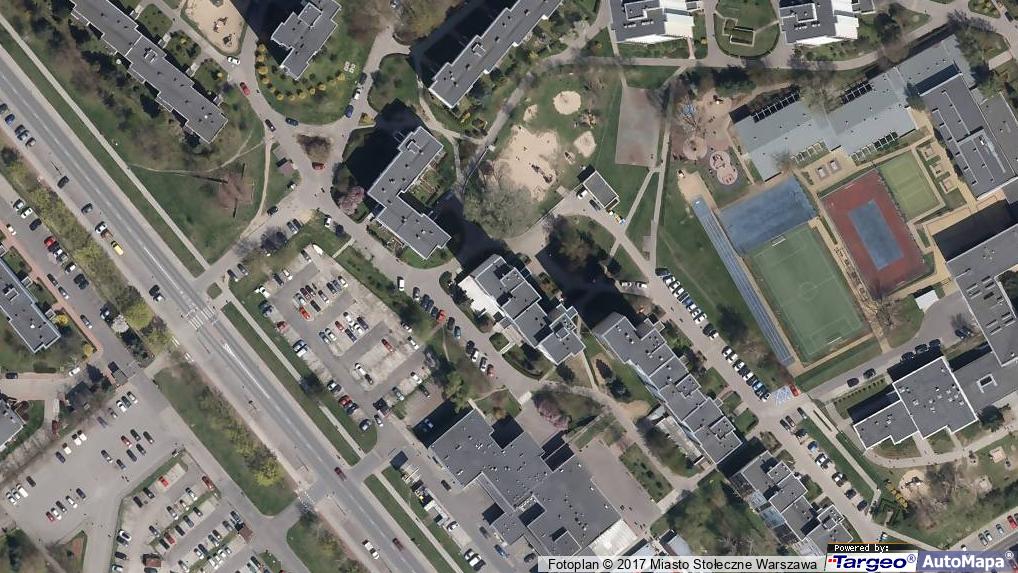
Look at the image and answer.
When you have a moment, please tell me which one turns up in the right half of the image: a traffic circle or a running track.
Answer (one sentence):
There is a running track in the right half of the image.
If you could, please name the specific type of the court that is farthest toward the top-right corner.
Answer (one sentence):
What you see as the court that is farthest toward the top-right corner is a tennis court.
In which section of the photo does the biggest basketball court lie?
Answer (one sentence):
The biggest basketball court sits in the right section of the image.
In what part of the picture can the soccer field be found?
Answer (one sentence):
The soccer field sits in the right section of the image.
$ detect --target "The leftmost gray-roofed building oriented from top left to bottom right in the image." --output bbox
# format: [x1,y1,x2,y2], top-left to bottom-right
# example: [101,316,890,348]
[0,249,64,354]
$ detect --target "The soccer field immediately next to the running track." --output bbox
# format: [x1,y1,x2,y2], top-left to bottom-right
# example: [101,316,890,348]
[748,224,868,364]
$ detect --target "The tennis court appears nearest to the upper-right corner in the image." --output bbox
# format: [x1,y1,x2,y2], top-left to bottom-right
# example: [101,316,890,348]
[880,149,938,220]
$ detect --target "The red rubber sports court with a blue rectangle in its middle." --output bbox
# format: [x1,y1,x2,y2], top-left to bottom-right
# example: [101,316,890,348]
[820,169,926,291]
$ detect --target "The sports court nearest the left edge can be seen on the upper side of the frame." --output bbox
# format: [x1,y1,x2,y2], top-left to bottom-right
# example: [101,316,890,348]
[720,177,817,256]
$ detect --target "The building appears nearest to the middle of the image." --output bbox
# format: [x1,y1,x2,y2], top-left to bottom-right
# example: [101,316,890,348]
[458,253,585,370]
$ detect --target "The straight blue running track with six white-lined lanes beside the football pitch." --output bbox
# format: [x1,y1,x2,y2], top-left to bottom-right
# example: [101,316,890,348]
[692,197,795,366]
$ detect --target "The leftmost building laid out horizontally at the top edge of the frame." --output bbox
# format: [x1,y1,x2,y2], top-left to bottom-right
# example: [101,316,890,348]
[608,0,705,46]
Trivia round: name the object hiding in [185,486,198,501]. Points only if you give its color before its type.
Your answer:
gray vehicle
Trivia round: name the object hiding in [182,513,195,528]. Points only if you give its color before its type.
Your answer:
gray vehicle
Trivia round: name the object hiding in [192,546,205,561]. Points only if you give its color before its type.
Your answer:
white vehicle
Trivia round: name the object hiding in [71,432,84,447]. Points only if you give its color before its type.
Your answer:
white vehicle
